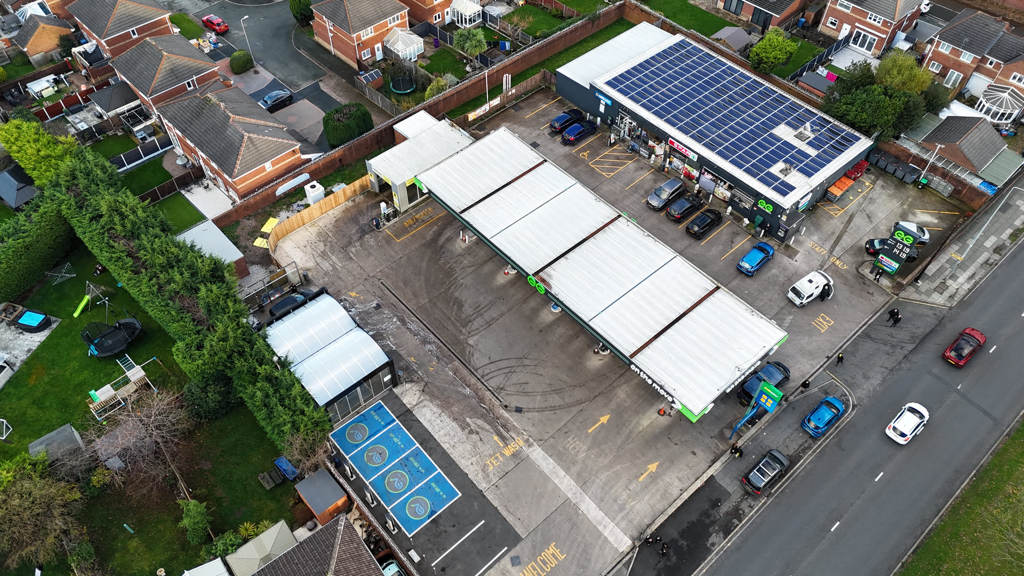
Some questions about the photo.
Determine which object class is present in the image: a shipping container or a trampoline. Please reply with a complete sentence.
This aerial view contains a trampoline.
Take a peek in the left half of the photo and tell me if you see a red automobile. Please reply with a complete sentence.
Yes, I can see a red automobile in the left half of the photo.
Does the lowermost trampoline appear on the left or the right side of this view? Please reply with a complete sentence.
The lowermost trampoline appears in the left half of the scene.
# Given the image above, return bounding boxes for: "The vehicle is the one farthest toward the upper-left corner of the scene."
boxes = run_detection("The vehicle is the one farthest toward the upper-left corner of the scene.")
[200,16,232,35]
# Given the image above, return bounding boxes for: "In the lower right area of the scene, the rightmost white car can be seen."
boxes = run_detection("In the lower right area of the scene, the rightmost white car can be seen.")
[885,403,928,446]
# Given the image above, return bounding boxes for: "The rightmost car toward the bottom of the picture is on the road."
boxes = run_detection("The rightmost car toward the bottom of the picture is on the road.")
[939,328,983,370]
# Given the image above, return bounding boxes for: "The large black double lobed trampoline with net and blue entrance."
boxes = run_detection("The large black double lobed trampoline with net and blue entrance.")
[82,315,150,358]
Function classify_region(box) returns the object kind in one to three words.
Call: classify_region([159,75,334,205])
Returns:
house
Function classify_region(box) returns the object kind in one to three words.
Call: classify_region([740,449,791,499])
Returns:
car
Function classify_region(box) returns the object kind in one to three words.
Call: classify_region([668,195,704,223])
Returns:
car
